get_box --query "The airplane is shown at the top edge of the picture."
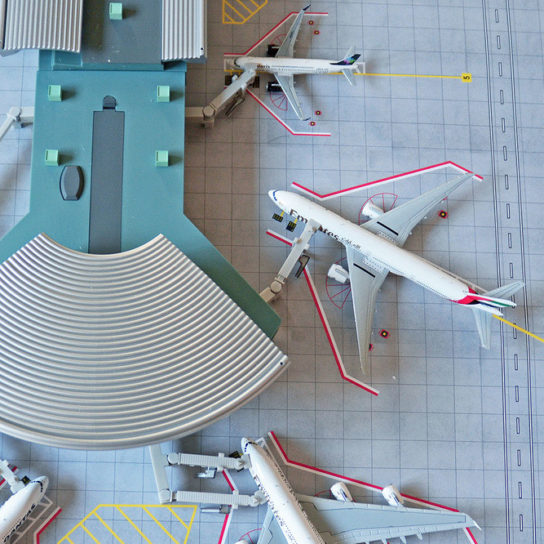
[231,3,360,119]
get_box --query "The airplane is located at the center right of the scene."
[268,170,526,375]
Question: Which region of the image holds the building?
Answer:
left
